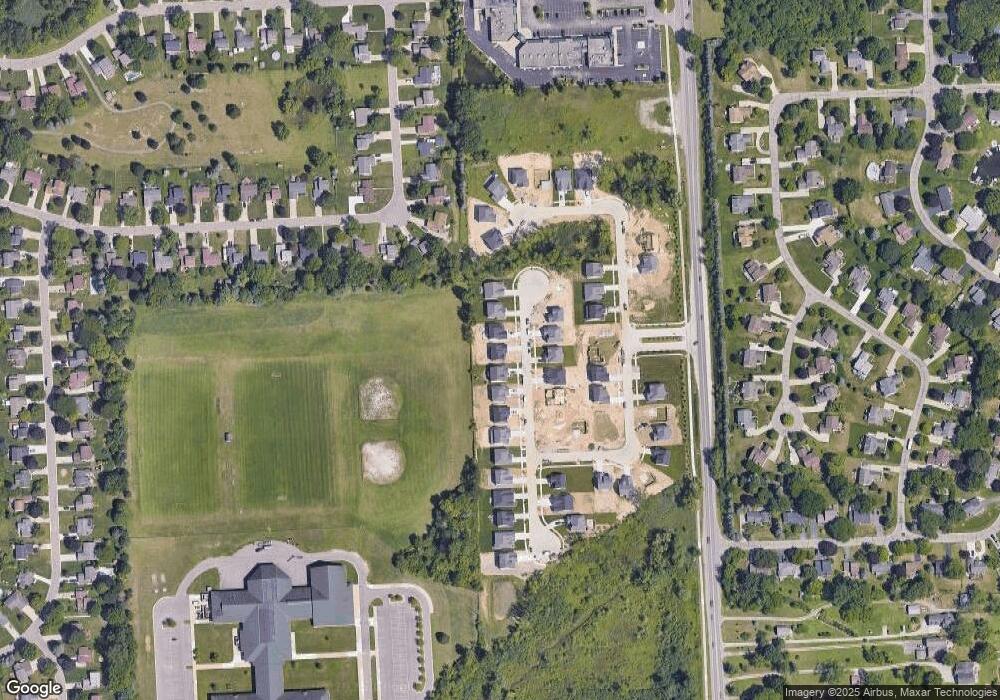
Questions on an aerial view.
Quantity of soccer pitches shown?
two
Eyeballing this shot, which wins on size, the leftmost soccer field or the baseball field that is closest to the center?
the soccer field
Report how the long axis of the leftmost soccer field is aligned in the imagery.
vertically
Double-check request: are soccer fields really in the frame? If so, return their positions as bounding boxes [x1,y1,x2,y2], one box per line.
[134,356,215,519]
[233,354,338,512]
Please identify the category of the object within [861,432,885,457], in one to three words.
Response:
house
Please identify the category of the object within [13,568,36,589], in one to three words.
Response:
house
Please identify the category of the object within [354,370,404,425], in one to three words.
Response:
baseball field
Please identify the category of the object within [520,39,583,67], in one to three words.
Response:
building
